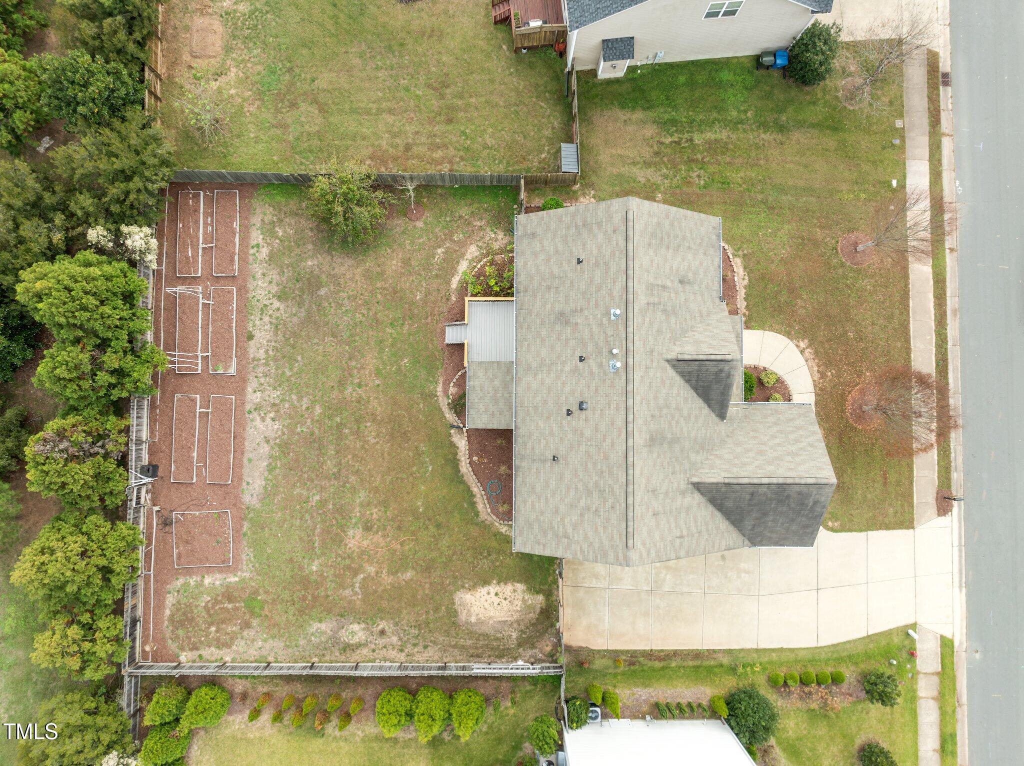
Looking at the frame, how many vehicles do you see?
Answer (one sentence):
There are no vehicles in this view.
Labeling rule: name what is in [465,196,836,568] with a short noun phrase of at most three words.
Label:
house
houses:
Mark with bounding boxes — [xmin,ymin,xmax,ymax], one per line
[561,711,764,766]
[563,0,829,78]
[465,196,836,568]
